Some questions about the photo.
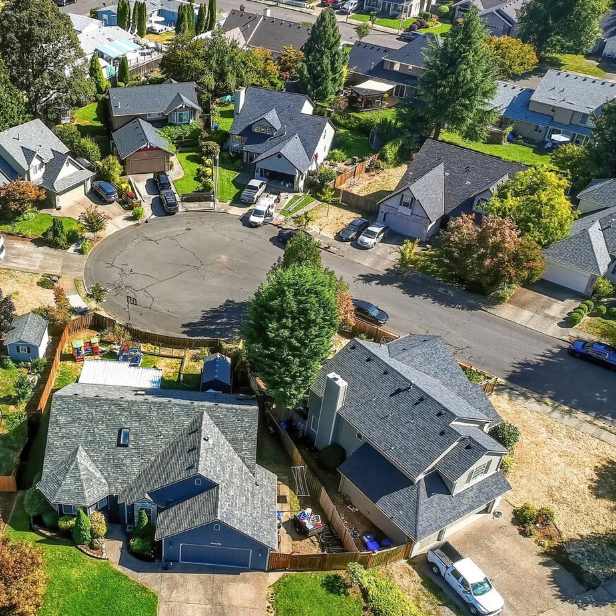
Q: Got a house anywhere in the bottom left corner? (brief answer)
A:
Yes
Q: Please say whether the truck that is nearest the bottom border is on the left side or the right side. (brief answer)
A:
right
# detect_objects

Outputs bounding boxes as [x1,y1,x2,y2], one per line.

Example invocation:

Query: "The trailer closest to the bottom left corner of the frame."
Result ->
[280,510,330,542]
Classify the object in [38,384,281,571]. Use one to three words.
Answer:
house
